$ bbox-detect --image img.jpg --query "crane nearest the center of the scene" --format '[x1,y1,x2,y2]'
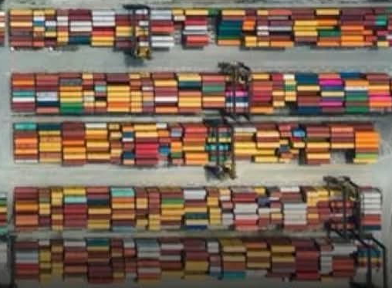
[191,113,231,185]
